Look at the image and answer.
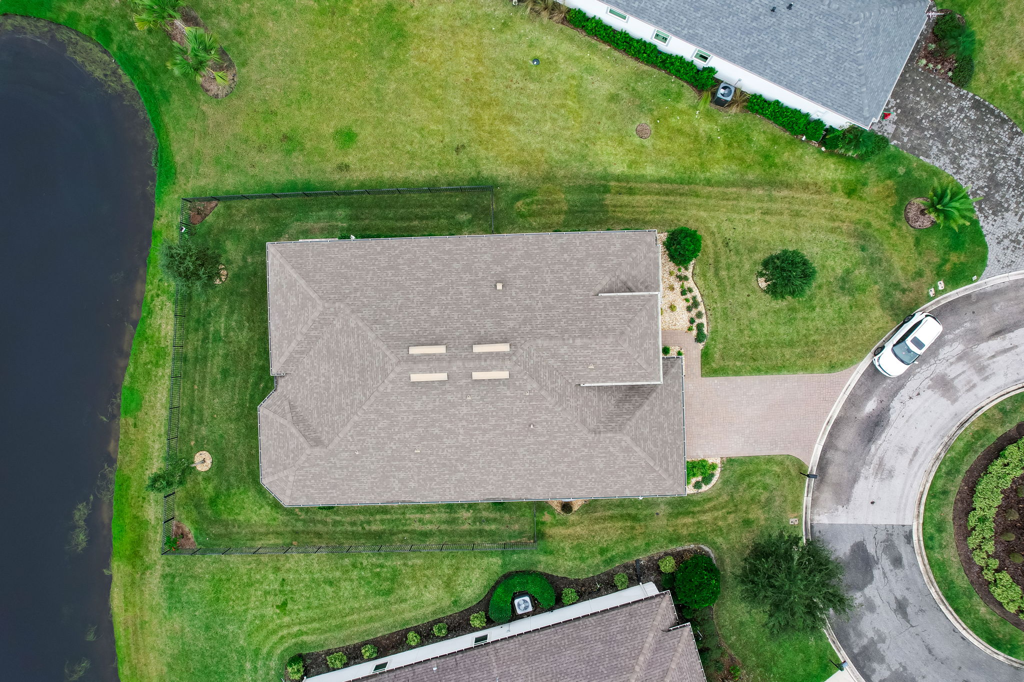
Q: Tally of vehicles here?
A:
1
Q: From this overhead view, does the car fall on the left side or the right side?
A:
right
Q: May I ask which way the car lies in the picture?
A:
diagonally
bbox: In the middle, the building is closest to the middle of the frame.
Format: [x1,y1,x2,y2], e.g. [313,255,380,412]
[258,230,687,507]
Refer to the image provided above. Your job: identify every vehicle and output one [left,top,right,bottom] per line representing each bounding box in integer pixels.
[875,306,945,377]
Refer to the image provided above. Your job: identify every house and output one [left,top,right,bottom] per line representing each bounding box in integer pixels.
[555,0,933,133]
[258,230,687,507]
[305,582,706,682]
